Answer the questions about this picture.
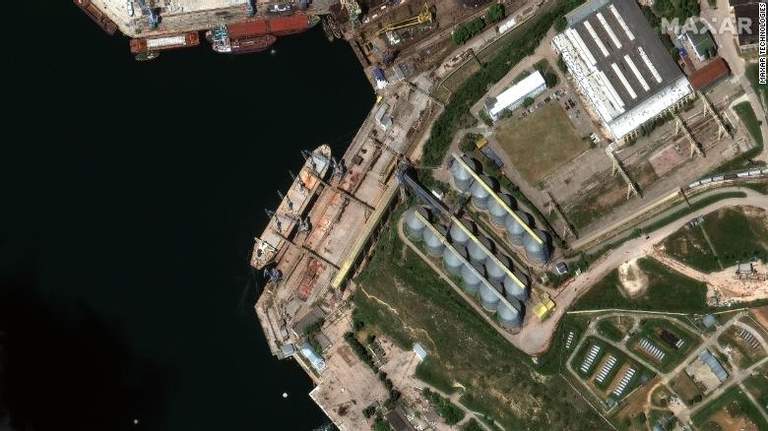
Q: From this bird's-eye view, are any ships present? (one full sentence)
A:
Yes, a ship appears in the view.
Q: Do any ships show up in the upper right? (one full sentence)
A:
No, looking in the upper right, there is no ship.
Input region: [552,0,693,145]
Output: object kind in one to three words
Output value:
building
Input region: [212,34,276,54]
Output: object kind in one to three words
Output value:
ship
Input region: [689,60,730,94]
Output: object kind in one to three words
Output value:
building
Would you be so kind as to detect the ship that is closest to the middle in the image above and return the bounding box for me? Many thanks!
[250,144,332,268]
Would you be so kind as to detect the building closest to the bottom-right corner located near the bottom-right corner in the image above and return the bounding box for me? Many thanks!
[698,347,729,383]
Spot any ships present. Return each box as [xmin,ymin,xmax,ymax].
[130,31,200,54]
[207,13,320,43]
[212,34,276,54]
[76,0,117,36]
[250,144,332,268]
